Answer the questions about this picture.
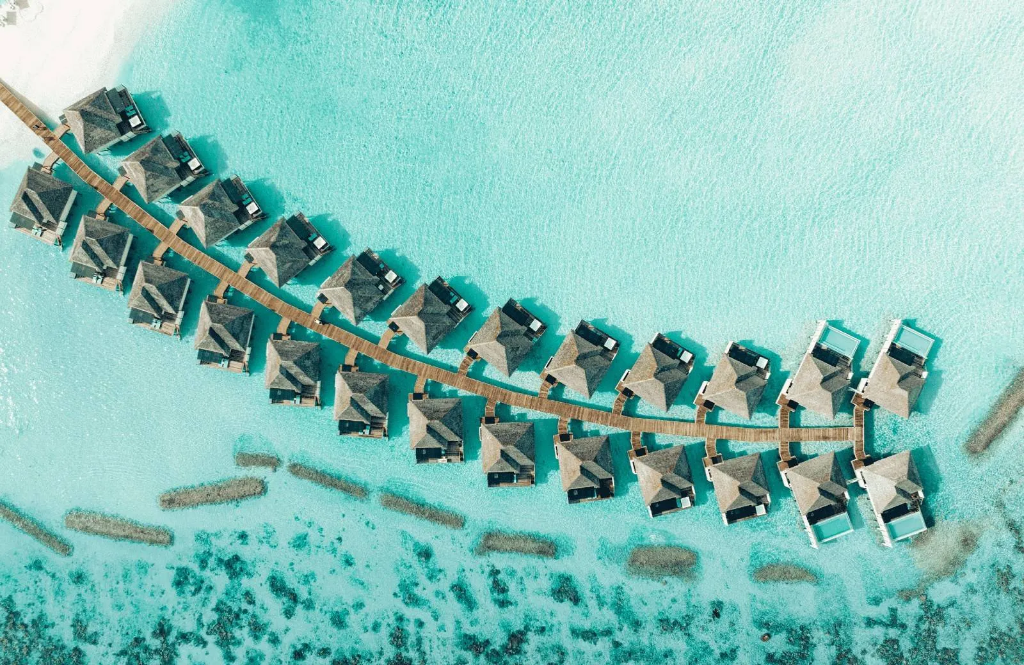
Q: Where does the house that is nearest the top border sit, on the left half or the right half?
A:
left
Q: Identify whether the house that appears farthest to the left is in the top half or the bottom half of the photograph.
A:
top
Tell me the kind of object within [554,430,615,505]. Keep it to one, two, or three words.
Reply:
house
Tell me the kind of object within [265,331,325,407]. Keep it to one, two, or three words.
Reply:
house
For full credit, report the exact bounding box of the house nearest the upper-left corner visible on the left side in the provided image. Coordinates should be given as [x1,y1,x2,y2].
[62,83,159,158]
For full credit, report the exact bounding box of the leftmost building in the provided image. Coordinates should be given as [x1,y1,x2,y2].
[7,162,89,251]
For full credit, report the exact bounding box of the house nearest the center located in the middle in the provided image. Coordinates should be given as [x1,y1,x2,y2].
[463,296,548,377]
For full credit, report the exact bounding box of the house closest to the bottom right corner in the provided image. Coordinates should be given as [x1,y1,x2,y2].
[845,451,925,548]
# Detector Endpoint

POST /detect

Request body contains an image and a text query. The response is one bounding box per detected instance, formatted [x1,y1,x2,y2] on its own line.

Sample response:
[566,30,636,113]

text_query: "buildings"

[120,130,216,205]
[772,451,850,548]
[626,443,694,519]
[245,209,338,288]
[772,320,851,420]
[62,83,159,158]
[178,174,272,248]
[265,331,325,407]
[385,274,474,354]
[463,296,548,377]
[408,389,464,463]
[844,319,927,419]
[316,246,406,326]
[127,254,201,338]
[333,361,391,437]
[615,331,696,412]
[7,162,89,251]
[193,292,262,374]
[692,340,769,420]
[700,452,771,527]
[67,209,144,296]
[539,318,620,399]
[554,430,615,505]
[479,413,535,488]
[845,451,925,548]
